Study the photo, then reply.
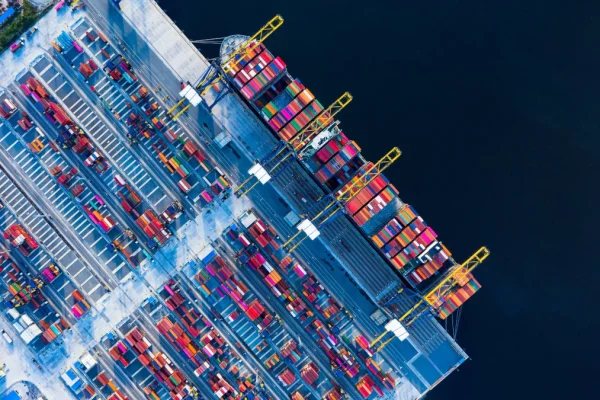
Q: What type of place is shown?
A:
port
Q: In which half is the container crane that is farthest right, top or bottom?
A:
bottom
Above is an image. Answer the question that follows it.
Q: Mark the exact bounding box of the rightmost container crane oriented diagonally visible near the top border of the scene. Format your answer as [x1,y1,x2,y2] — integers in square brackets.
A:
[166,13,287,121]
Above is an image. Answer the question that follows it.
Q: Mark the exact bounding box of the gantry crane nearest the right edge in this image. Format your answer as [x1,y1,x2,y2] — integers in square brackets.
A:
[370,244,491,351]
